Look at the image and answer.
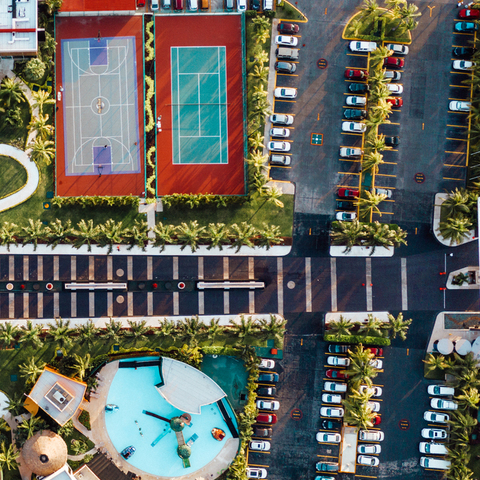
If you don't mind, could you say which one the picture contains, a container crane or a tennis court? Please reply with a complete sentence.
The image shows a tennis court.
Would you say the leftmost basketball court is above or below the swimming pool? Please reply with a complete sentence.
Looking at the photo, you'll find the leftmost basketball court above the swimming pool.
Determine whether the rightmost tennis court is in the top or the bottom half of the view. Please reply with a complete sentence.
The top half of the photo is where the rightmost tennis court is.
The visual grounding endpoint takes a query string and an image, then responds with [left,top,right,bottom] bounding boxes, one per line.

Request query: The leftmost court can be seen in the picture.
[56,15,145,196]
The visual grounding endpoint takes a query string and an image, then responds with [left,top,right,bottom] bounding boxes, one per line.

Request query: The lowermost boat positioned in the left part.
[120,446,134,459]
